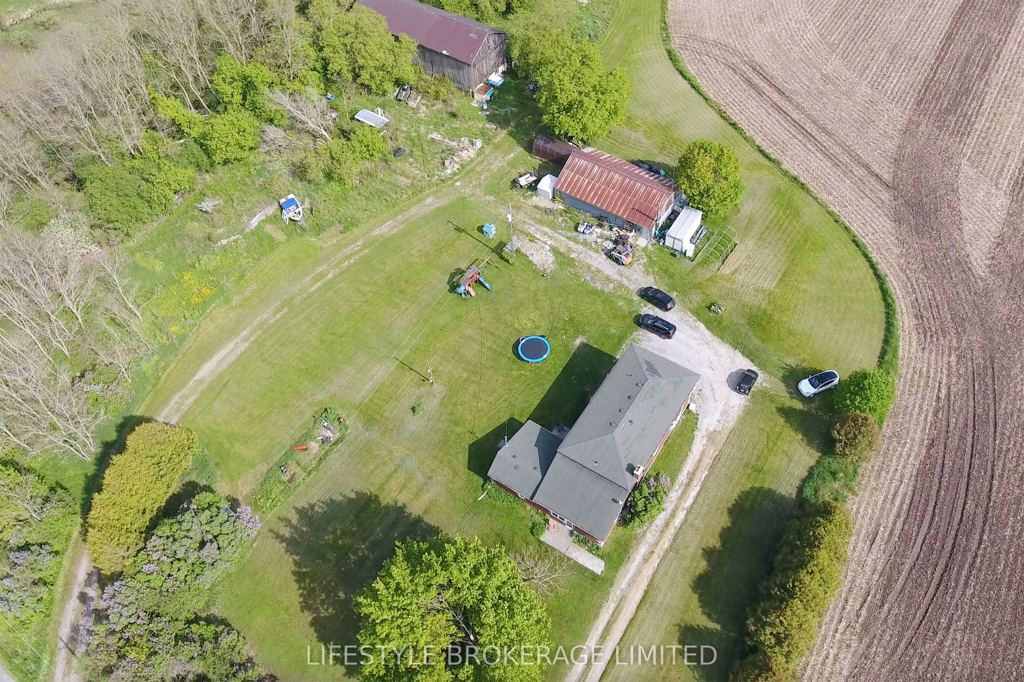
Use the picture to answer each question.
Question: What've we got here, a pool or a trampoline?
trampoline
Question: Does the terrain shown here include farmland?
Yes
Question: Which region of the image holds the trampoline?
center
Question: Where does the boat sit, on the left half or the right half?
left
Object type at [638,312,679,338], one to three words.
car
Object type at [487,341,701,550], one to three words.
house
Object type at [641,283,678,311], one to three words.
car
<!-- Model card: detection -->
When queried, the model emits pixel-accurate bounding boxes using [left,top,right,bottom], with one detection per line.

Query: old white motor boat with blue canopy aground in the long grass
[278,191,300,216]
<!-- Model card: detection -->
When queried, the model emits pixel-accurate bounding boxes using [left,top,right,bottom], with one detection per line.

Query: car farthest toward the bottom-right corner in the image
[798,368,841,396]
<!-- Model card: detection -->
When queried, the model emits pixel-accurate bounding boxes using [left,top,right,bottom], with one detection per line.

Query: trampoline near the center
[521,337,548,364]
